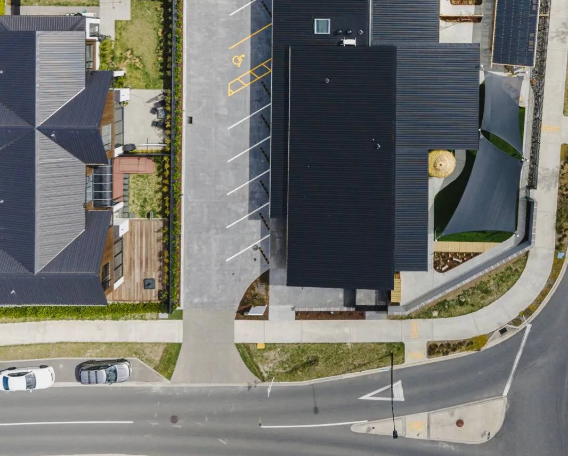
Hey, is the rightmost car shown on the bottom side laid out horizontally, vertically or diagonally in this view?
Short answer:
horizontally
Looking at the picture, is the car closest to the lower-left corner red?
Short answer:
No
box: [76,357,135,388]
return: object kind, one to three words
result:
car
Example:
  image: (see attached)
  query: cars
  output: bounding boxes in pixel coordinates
[0,362,54,394]
[76,357,135,388]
